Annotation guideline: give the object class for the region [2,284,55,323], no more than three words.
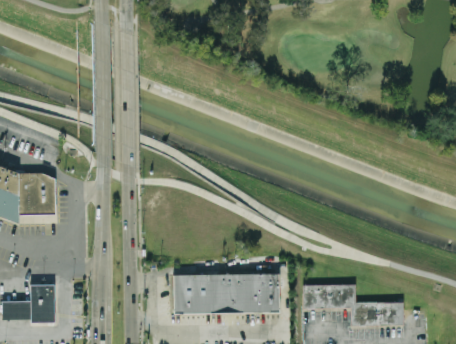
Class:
building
